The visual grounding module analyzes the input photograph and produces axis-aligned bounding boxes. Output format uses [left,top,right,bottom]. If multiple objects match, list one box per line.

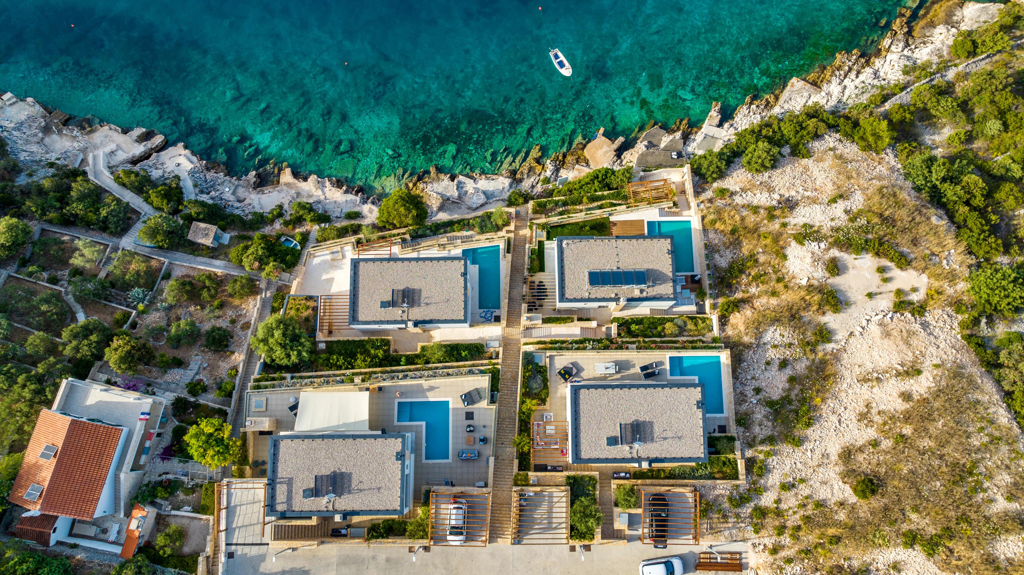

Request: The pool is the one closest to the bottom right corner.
[667,353,726,417]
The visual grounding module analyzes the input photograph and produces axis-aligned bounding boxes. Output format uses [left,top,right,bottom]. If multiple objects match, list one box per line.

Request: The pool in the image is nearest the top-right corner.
[645,218,697,275]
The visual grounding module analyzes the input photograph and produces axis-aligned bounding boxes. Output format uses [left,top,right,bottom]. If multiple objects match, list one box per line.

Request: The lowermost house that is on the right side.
[563,380,708,468]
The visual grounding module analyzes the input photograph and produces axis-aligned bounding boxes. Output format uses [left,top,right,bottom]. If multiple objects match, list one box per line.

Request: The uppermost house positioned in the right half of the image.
[553,235,677,313]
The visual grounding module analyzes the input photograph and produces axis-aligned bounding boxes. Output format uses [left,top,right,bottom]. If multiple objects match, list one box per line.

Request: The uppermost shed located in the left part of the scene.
[187,222,225,249]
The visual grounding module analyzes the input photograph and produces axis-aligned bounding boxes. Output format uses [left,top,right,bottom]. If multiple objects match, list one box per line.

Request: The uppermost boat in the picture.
[550,41,574,76]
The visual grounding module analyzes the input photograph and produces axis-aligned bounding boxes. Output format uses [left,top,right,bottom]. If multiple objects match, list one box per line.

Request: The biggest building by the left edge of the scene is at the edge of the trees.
[7,409,135,521]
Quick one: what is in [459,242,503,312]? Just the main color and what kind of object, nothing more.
blue swimming pool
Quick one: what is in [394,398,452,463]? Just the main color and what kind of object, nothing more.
blue swimming pool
